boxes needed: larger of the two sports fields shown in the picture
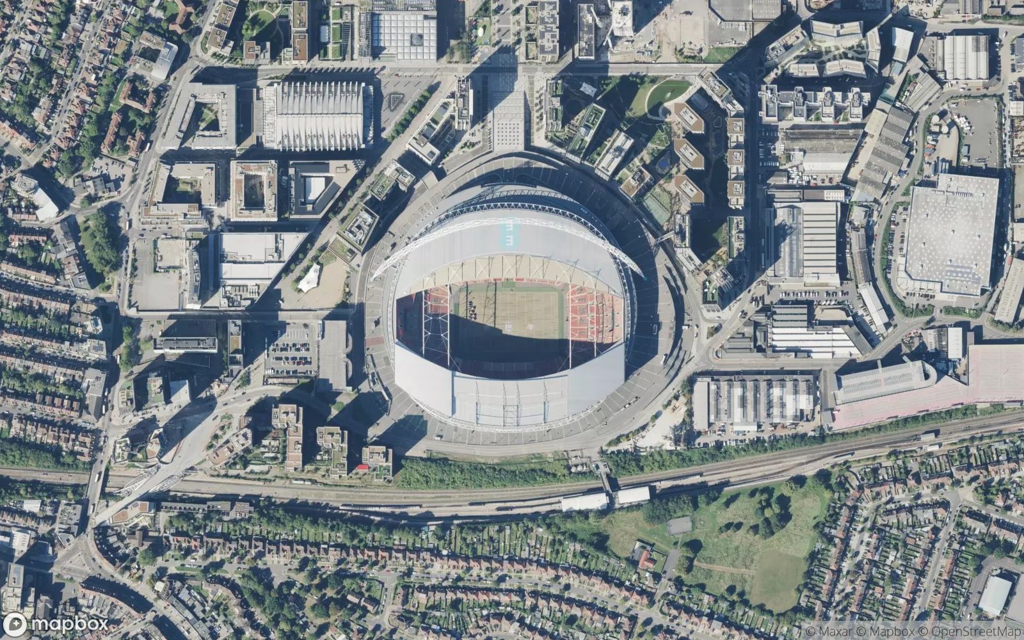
[454,282,563,365]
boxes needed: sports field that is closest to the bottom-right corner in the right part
[750,549,807,612]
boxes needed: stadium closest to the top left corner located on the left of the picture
[264,80,374,152]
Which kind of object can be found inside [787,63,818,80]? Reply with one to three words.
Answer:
building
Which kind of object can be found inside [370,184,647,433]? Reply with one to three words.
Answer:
stadium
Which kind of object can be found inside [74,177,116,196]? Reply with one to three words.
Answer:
building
